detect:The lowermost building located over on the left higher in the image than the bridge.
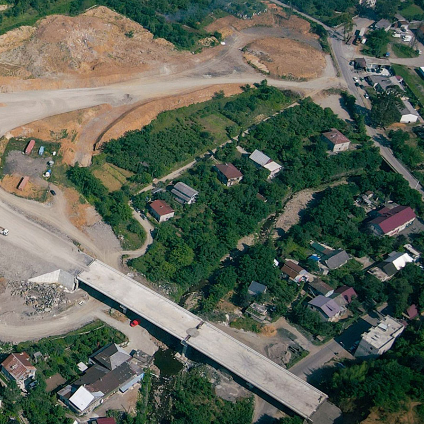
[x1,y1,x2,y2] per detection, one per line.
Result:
[149,200,175,226]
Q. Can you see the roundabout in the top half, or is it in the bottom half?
top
